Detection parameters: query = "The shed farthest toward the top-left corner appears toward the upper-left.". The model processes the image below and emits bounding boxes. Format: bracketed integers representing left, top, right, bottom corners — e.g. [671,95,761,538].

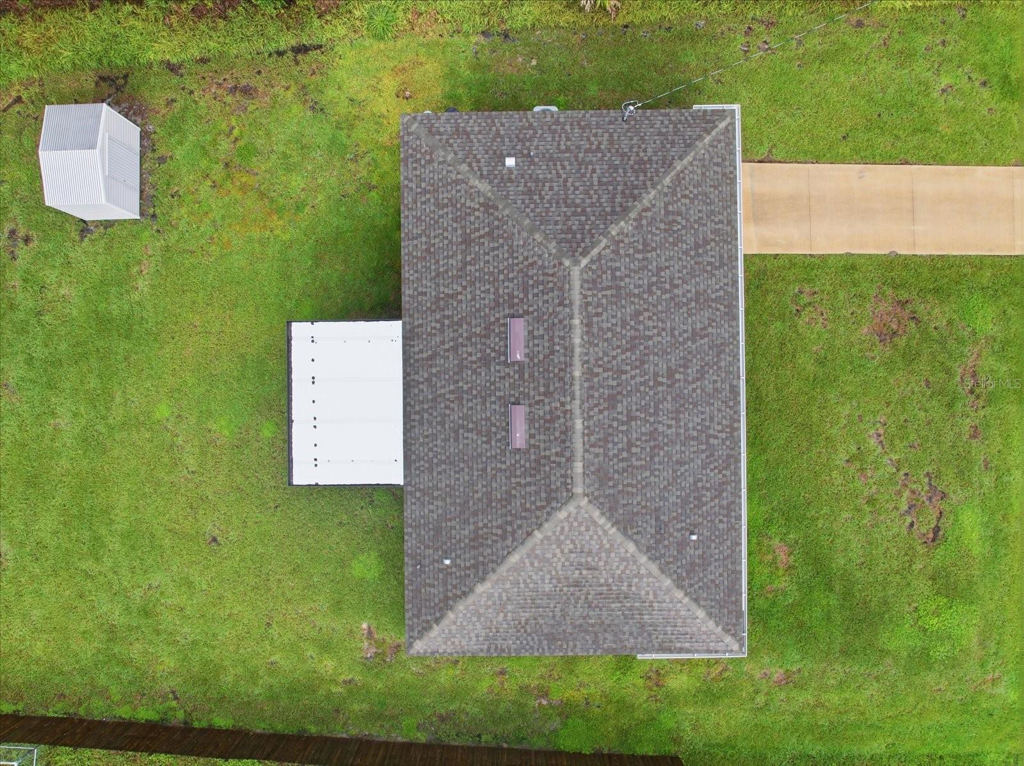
[37,102,140,221]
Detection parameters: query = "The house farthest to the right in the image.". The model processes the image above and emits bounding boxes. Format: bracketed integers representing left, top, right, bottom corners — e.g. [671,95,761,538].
[401,102,748,659]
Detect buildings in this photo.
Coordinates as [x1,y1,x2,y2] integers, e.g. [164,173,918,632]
[401,102,748,659]
[37,102,140,221]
